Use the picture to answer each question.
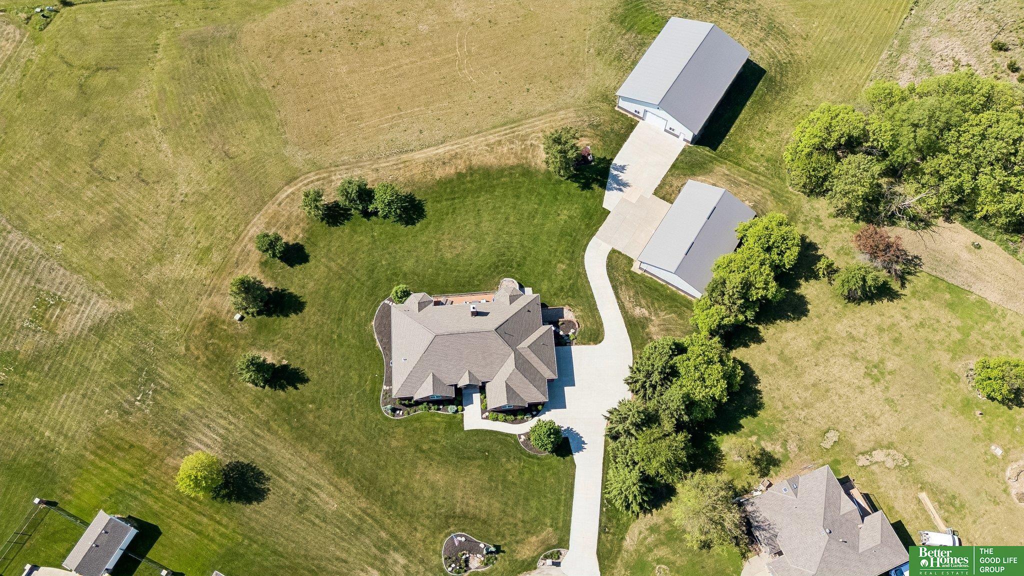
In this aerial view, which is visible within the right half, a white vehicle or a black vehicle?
white vehicle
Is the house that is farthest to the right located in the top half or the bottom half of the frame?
bottom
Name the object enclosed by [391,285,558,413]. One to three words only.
house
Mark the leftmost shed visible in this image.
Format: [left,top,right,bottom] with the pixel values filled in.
[61,509,137,576]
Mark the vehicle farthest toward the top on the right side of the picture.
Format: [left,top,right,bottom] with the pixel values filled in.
[917,531,959,557]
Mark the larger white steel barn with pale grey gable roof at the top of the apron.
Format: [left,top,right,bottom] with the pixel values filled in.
[615,16,749,144]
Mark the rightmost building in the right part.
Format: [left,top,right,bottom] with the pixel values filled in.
[742,464,910,576]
